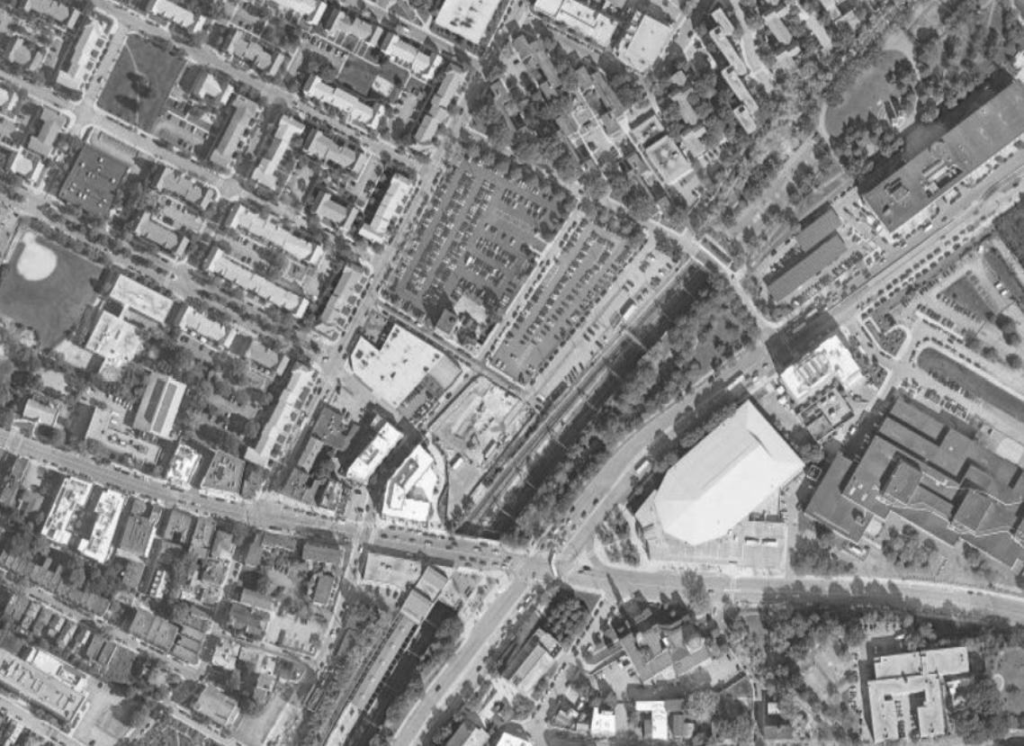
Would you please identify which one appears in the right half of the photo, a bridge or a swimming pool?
bridge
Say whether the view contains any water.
No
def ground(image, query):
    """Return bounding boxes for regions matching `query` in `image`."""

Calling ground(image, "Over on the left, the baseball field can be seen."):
[0,220,106,349]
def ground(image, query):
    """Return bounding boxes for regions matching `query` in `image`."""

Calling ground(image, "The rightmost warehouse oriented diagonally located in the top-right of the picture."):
[863,79,1024,232]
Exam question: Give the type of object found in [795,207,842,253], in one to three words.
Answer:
shed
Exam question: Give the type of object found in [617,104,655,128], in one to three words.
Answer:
building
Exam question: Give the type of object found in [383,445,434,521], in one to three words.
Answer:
building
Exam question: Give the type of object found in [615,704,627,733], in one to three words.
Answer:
house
